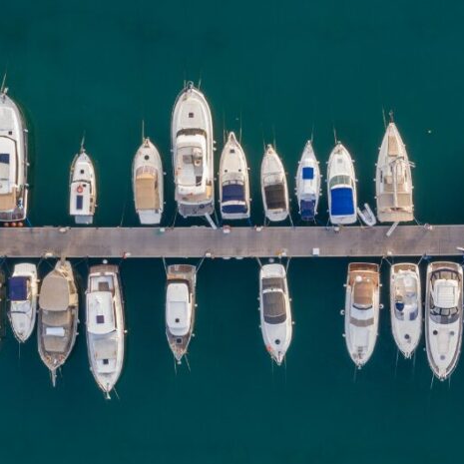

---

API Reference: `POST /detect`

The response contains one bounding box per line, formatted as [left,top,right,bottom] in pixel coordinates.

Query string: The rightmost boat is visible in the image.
[422,256,464,390]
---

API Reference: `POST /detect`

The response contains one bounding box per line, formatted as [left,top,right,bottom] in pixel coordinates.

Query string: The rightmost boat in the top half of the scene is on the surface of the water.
[371,111,426,235]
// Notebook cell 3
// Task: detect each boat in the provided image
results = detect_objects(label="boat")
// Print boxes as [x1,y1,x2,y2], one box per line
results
[125,133,166,227]
[256,254,295,376]
[422,256,464,390]
[171,80,219,228]
[385,254,426,372]
[259,140,293,227]
[35,251,82,385]
[0,75,31,226]
[215,124,253,226]
[360,202,379,224]
[322,131,364,227]
[164,255,203,370]
[82,255,129,398]
[67,136,98,228]
[340,254,393,381]
[5,256,41,349]
[371,111,426,235]
[293,135,323,227]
